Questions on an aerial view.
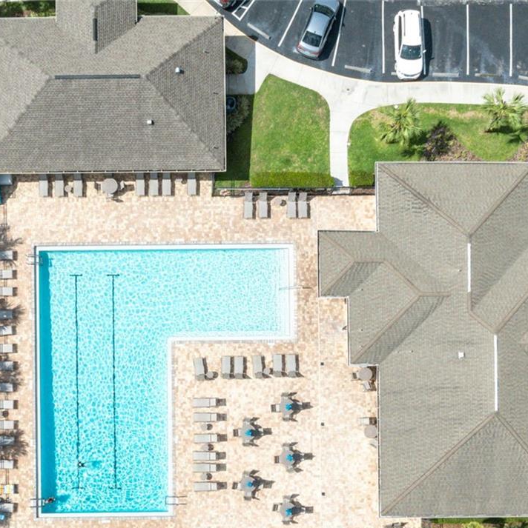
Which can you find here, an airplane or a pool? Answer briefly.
pool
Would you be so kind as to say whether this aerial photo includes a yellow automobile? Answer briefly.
No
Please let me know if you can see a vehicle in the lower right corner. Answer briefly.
No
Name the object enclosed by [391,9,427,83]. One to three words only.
car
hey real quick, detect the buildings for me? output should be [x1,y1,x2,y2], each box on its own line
[316,161,528,518]
[0,0,226,176]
